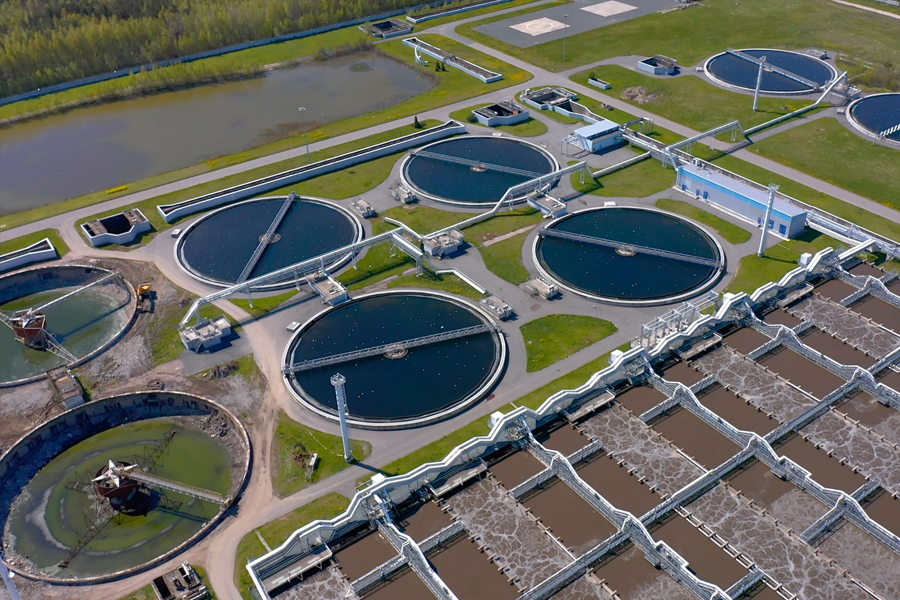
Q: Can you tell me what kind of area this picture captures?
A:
industrial area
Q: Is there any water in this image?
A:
Yes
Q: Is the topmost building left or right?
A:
right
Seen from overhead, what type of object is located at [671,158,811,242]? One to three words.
building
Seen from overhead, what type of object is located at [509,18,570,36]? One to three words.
helipad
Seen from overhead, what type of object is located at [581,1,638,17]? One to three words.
helipad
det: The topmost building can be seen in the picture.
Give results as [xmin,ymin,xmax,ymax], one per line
[818,82,867,110]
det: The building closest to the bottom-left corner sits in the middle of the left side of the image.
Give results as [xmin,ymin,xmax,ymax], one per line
[177,309,231,352]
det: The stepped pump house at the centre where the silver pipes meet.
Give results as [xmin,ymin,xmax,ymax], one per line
[420,223,466,258]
